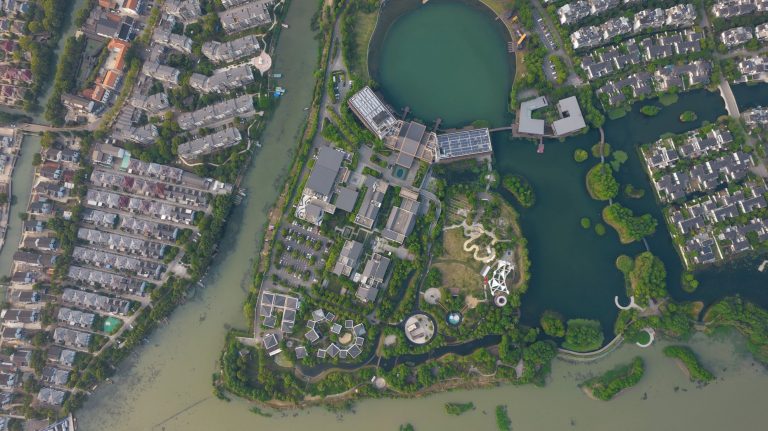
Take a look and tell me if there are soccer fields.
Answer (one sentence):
No, no soccer field is visible in the scene.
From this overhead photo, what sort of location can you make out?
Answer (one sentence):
It's a residential area.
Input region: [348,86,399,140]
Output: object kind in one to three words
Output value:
building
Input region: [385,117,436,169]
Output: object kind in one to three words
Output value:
building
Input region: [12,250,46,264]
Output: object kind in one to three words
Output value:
house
